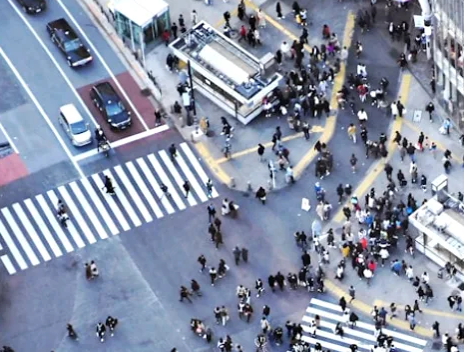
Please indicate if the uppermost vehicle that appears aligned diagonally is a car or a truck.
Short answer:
car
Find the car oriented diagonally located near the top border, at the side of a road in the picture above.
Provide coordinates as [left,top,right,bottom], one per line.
[45,14,93,62]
